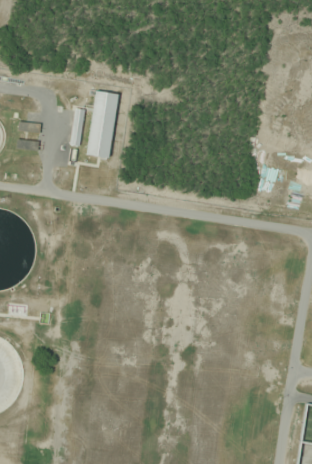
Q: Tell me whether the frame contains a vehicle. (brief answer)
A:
No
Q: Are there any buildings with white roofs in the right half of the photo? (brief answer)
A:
No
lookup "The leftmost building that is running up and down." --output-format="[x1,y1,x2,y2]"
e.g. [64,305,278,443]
[70,107,86,146]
